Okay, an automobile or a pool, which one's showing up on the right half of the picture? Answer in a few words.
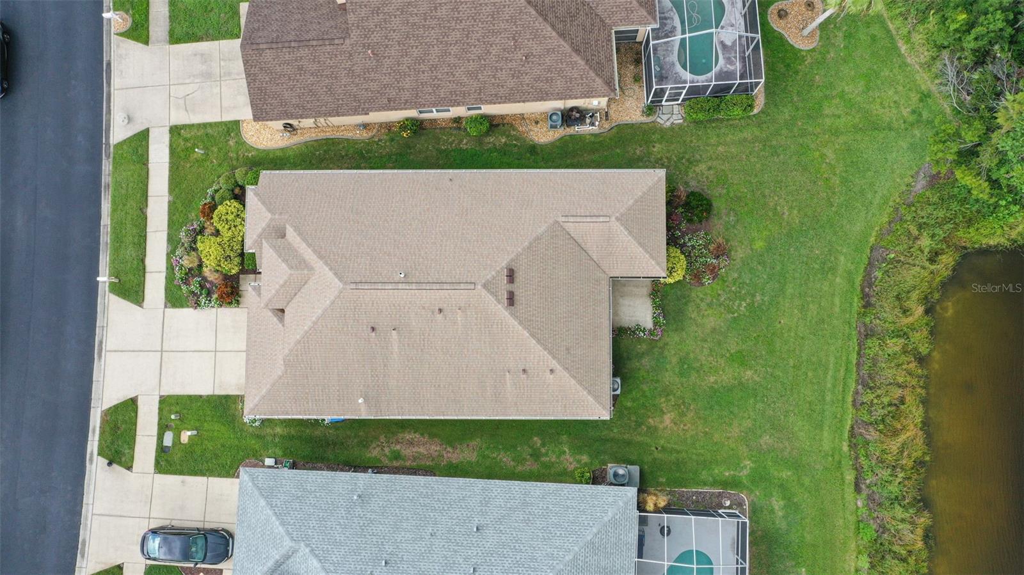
pool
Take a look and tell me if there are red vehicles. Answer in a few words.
No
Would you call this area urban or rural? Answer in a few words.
urban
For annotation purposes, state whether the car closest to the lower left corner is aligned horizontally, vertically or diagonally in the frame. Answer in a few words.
horizontally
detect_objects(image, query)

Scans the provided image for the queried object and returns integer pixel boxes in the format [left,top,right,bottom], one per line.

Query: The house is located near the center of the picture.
[242,167,666,421]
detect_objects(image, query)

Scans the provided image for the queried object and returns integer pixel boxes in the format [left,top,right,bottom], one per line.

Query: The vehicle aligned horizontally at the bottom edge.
[139,523,235,569]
